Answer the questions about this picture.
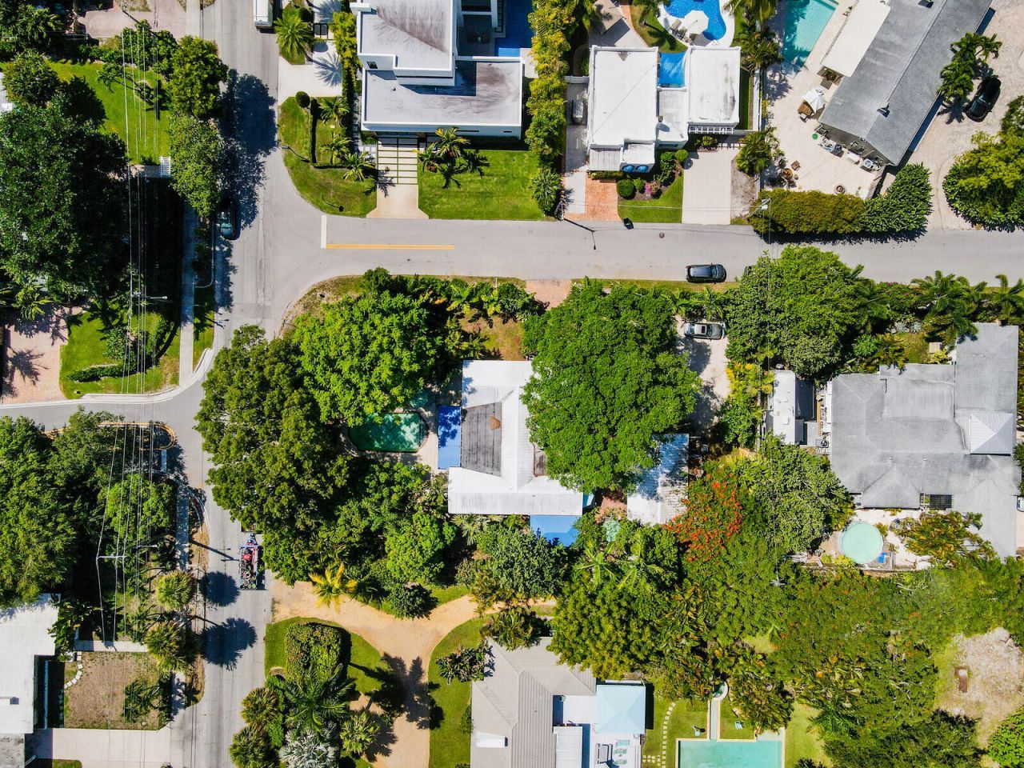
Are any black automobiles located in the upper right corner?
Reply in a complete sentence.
Yes, I can see a black automobile in the upper right corner.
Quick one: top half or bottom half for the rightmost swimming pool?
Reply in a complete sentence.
Seen from above, the rightmost swimming pool lies in the bottom half of the view.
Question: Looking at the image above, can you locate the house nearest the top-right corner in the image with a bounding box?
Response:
[814,0,992,168]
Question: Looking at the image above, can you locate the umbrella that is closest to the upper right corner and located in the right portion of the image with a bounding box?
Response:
[799,92,824,115]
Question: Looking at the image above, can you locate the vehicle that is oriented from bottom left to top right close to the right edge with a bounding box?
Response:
[966,76,1000,119]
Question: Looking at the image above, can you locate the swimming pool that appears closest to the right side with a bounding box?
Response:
[837,520,885,566]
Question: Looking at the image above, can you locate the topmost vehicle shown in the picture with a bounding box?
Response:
[246,0,271,27]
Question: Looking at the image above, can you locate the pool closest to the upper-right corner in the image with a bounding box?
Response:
[778,0,841,82]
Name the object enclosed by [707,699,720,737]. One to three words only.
swimming pool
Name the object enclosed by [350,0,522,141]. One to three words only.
house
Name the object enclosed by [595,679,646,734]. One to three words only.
gazebo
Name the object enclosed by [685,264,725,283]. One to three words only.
car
